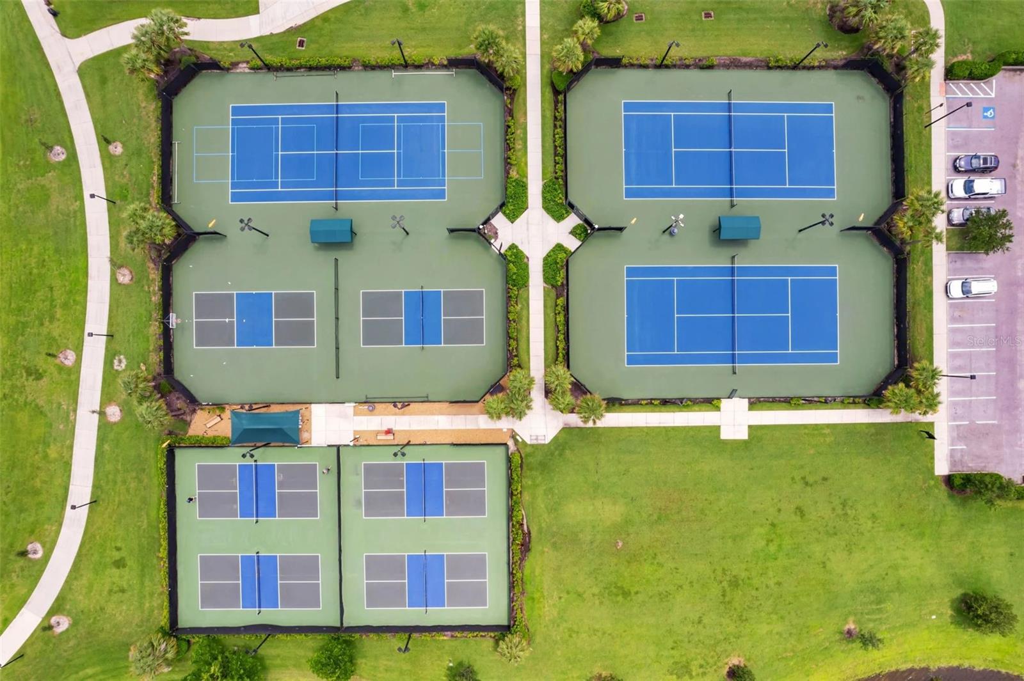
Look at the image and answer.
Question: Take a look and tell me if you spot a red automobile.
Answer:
No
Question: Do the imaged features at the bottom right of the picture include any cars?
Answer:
No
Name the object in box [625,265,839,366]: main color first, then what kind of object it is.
blue tennis court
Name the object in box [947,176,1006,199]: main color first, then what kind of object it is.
white truck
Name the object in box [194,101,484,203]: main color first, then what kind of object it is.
blue tennis court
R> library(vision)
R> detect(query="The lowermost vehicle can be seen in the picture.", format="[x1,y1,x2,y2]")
[946,277,997,299]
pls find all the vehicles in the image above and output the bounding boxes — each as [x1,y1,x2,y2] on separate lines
[947,202,990,224]
[947,176,1006,199]
[952,152,1000,174]
[946,277,997,299]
